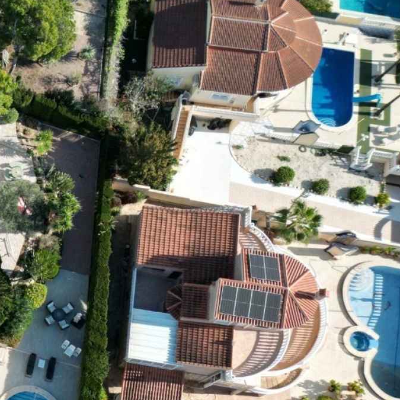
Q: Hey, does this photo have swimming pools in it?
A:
Yes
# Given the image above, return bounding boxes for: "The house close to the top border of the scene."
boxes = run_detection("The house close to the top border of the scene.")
[142,0,323,126]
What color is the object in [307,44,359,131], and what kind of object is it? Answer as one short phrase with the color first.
blue swimming pool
